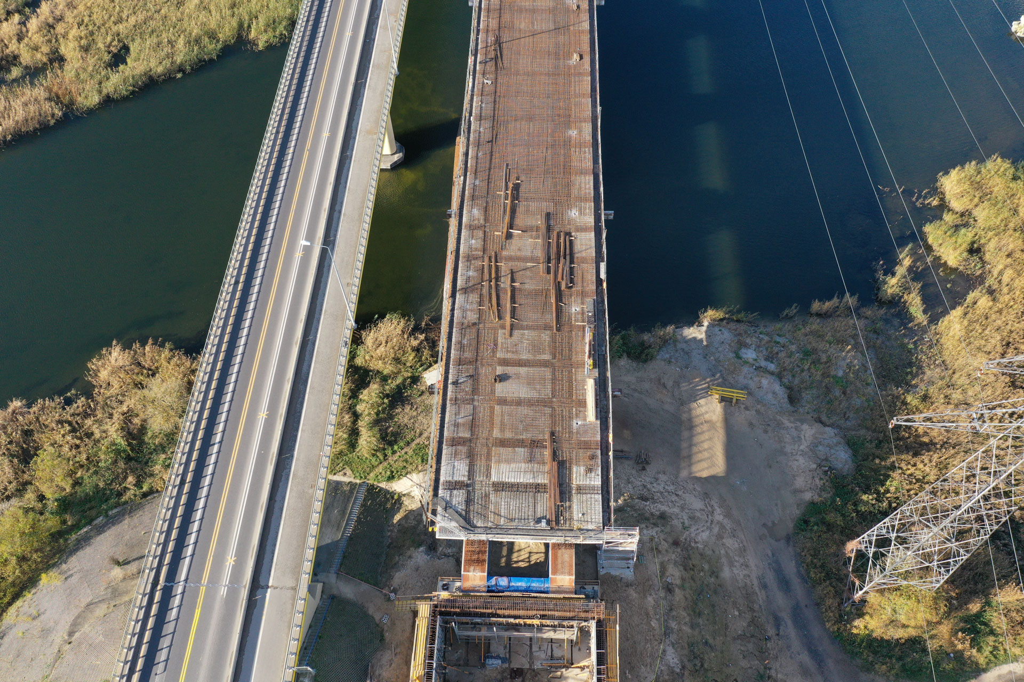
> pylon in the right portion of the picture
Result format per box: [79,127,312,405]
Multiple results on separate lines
[831,353,1024,607]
